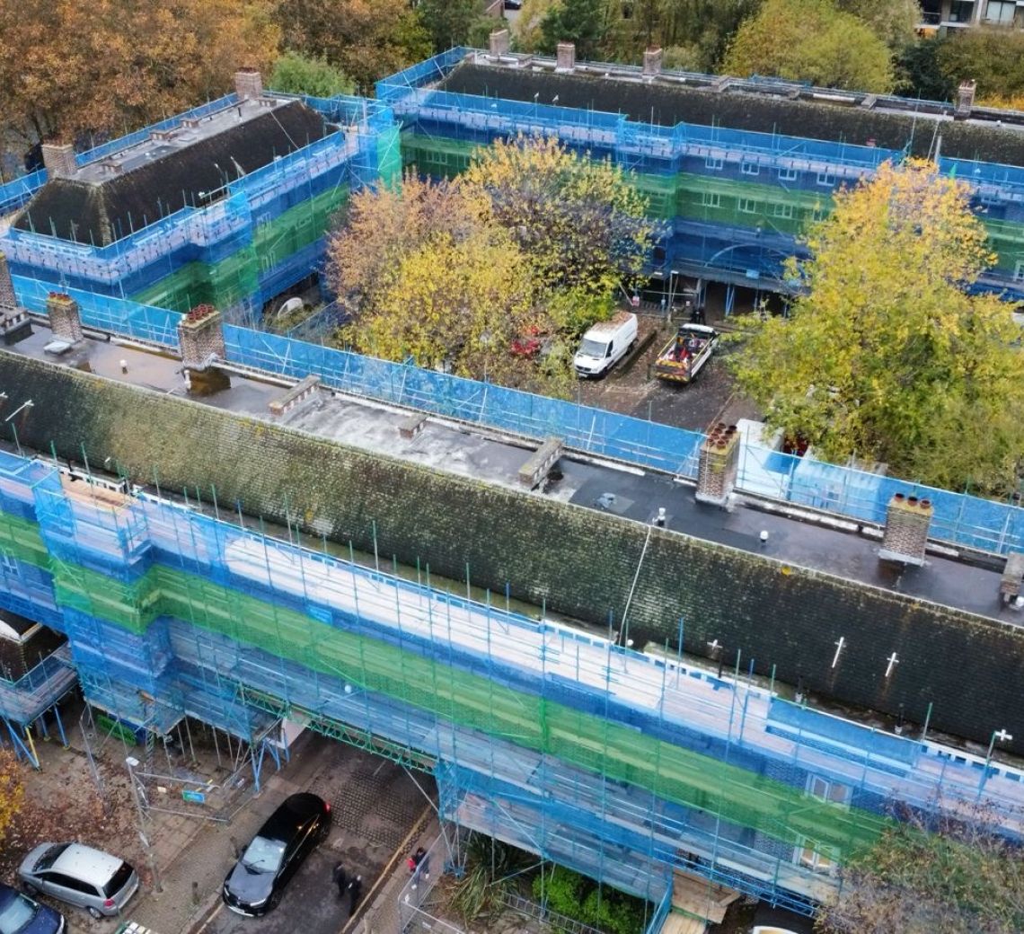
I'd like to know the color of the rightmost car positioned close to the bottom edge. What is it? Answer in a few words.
black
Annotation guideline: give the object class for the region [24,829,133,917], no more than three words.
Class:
car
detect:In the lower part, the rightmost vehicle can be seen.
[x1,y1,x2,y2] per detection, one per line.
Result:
[228,791,341,908]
